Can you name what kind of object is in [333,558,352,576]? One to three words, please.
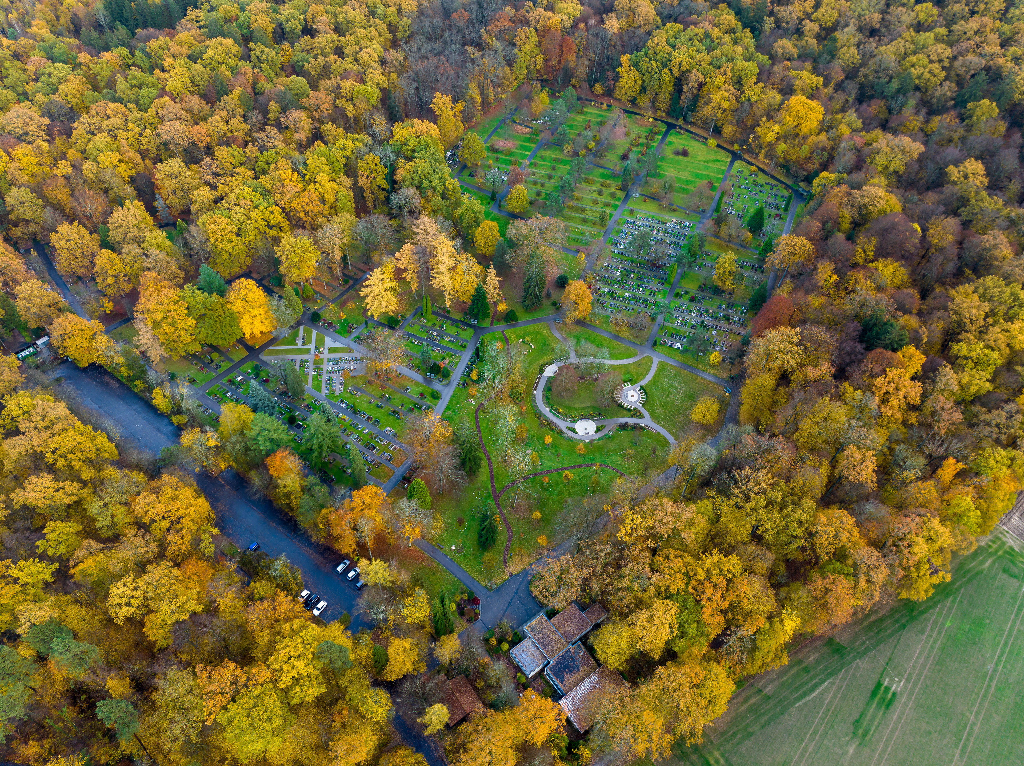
car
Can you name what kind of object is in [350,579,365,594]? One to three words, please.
car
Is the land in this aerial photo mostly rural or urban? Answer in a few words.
rural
